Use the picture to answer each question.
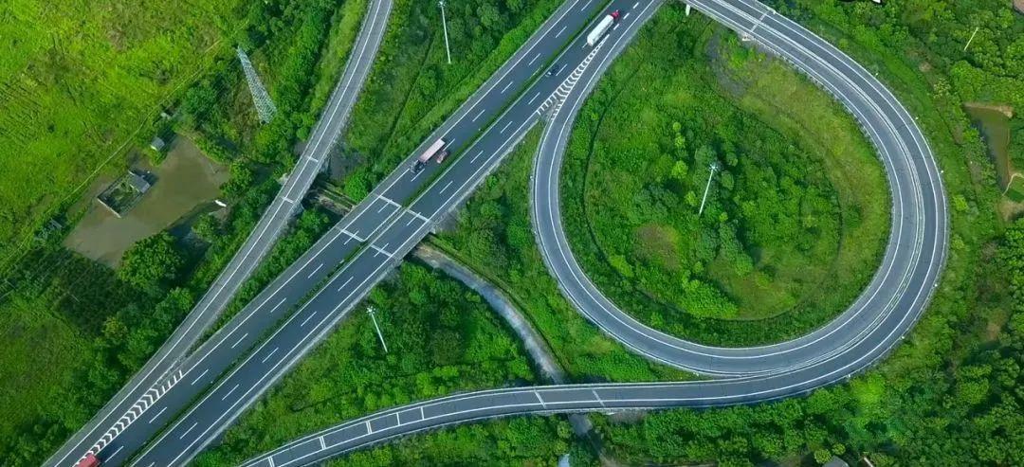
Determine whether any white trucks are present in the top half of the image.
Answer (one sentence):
Yes, a white truck can be seen in the top half of the image.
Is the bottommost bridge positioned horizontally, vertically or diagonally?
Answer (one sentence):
In this picture, the bottommost bridge is oriented horizontally.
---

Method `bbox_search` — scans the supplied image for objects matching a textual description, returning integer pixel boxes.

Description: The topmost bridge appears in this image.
[672,0,787,43]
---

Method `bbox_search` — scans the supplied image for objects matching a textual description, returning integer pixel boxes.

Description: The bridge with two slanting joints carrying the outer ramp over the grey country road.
[503,381,655,418]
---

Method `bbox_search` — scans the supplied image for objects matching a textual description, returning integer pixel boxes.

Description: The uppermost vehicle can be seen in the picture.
[586,12,620,47]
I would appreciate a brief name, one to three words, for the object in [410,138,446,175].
truck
